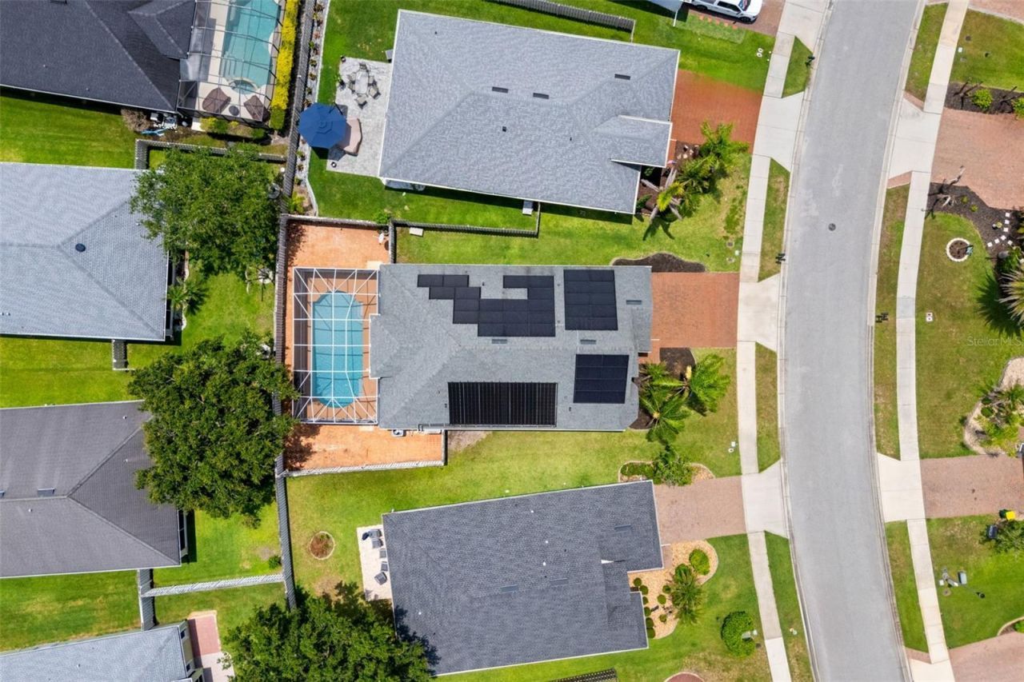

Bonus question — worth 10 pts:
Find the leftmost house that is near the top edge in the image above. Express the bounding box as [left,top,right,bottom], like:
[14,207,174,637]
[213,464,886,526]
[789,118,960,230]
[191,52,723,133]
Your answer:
[0,0,205,114]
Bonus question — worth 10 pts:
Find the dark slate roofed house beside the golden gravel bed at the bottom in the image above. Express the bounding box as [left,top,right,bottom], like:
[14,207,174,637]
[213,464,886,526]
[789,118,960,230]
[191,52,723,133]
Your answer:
[382,479,663,680]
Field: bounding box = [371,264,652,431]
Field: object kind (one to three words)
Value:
house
